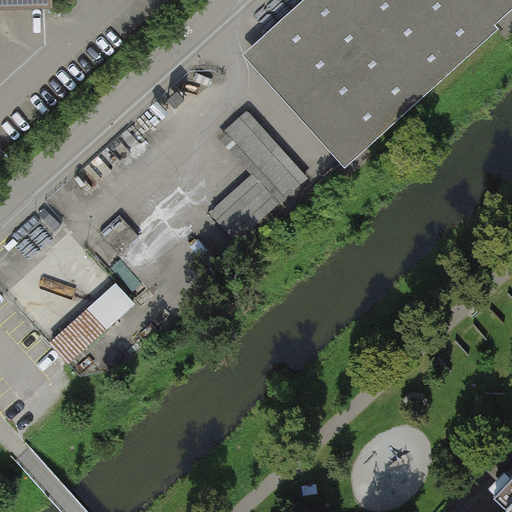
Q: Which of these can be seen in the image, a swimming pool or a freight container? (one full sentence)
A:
Looking from above, you can make out a freight container.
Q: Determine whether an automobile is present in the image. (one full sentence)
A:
Yes, the photo shows an automobile.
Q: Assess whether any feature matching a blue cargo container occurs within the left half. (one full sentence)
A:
No, there is no blue cargo container within the left half.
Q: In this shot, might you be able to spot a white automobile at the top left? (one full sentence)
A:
Yes, a white automobile can be seen at the top left.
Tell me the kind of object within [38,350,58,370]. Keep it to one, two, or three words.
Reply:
vehicle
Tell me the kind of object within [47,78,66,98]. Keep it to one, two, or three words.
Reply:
car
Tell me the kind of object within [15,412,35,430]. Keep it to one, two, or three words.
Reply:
car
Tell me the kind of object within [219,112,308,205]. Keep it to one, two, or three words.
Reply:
shed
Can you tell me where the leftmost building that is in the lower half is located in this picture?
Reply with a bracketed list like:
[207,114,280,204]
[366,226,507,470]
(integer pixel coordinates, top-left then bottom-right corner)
[50,283,134,364]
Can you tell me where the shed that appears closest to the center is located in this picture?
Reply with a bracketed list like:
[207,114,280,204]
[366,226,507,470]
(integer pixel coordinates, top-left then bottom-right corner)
[208,174,282,242]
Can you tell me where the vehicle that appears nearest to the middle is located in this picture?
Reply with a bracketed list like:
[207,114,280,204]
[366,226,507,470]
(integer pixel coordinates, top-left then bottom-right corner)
[188,236,208,258]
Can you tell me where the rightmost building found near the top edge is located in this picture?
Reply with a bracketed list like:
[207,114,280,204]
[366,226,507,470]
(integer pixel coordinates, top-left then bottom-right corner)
[244,0,512,168]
